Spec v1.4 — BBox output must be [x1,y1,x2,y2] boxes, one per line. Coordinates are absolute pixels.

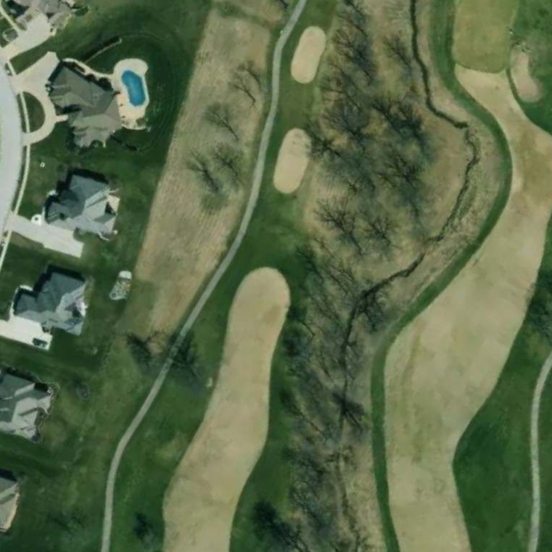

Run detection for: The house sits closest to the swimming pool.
[45,63,120,147]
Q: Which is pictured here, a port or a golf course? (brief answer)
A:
golf course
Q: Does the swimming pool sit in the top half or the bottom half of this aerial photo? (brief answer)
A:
top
